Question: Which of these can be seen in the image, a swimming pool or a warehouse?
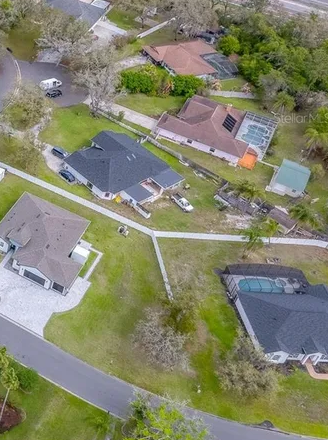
swimming pool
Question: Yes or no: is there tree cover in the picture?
Yes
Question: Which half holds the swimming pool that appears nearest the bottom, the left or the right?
right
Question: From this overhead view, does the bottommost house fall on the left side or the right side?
right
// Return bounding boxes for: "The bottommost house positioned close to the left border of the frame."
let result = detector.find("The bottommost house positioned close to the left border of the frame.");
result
[0,191,90,303]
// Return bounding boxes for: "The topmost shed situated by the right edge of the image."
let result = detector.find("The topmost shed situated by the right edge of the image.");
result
[273,154,314,200]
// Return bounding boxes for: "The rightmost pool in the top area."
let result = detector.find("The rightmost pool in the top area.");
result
[235,120,274,168]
